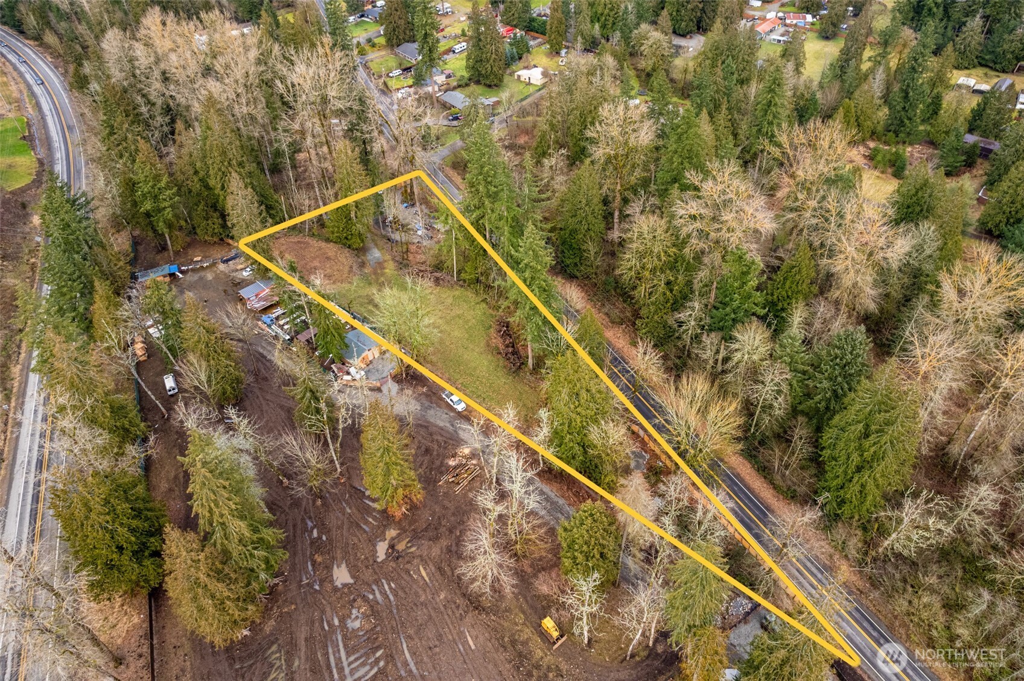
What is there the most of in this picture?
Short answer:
trees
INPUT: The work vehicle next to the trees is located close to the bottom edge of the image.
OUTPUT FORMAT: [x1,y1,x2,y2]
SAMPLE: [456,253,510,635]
[539,612,571,650]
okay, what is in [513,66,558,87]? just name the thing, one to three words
shed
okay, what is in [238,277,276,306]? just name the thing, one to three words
shed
